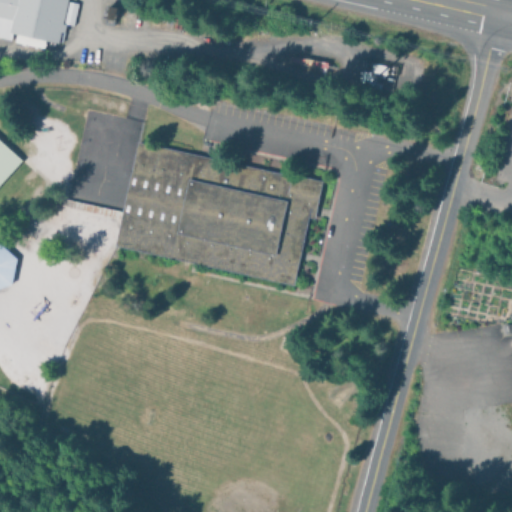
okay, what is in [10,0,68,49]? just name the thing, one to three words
building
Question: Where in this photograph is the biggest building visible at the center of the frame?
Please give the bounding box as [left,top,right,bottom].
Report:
[118,143,324,290]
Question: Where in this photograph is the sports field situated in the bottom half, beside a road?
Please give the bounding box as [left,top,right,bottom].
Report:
[42,322,345,512]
